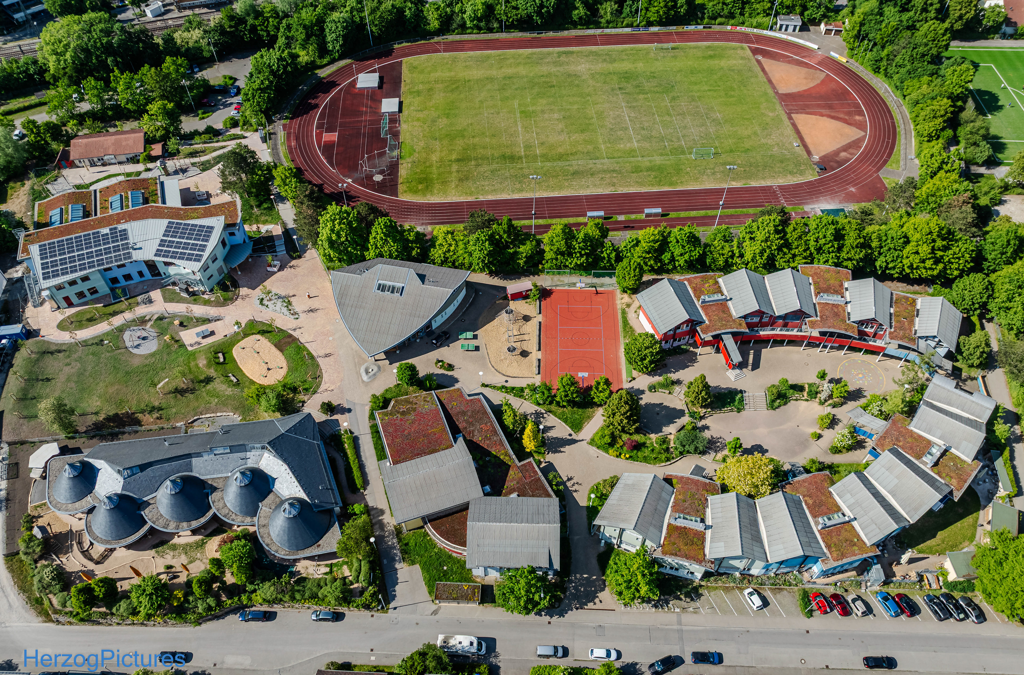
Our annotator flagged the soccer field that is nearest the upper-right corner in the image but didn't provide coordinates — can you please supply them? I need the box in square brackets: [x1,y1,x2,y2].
[943,46,1024,166]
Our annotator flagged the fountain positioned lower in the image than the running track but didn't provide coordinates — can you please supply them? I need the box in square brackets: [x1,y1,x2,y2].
[361,361,381,381]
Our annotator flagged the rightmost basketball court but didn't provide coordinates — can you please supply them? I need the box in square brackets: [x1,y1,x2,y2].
[540,288,623,395]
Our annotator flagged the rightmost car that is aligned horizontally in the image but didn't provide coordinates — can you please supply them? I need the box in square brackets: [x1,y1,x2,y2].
[861,653,899,671]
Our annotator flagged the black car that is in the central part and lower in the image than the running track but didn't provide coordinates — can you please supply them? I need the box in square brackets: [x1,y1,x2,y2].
[432,331,449,346]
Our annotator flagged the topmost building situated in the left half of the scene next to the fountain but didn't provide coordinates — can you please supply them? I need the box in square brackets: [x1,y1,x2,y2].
[330,257,476,361]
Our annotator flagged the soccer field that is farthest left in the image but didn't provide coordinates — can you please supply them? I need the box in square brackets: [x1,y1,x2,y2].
[397,42,821,201]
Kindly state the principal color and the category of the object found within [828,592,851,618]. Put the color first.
red car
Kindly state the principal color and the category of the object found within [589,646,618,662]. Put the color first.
white car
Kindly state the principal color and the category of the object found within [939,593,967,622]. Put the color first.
black car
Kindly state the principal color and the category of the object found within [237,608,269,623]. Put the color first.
blue car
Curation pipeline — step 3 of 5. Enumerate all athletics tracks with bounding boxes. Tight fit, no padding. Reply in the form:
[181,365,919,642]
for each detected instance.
[287,30,909,240]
